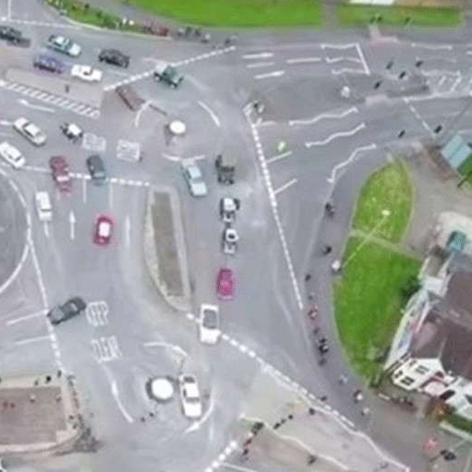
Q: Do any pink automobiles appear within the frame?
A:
Yes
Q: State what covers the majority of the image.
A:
paved ground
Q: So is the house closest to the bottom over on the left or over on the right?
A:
right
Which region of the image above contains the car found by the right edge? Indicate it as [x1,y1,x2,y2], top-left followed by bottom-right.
[444,227,471,255]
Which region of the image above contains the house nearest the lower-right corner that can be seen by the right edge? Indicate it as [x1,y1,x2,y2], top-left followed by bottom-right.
[392,277,472,426]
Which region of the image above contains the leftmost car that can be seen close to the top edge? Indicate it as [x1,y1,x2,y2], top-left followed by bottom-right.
[0,24,33,48]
